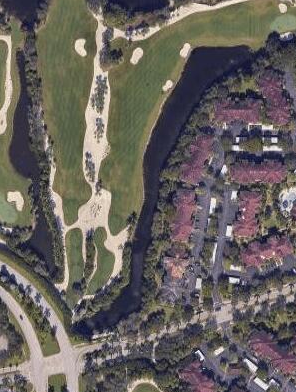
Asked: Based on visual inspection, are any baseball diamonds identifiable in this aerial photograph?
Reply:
No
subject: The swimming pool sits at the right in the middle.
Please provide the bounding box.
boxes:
[279,188,296,217]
